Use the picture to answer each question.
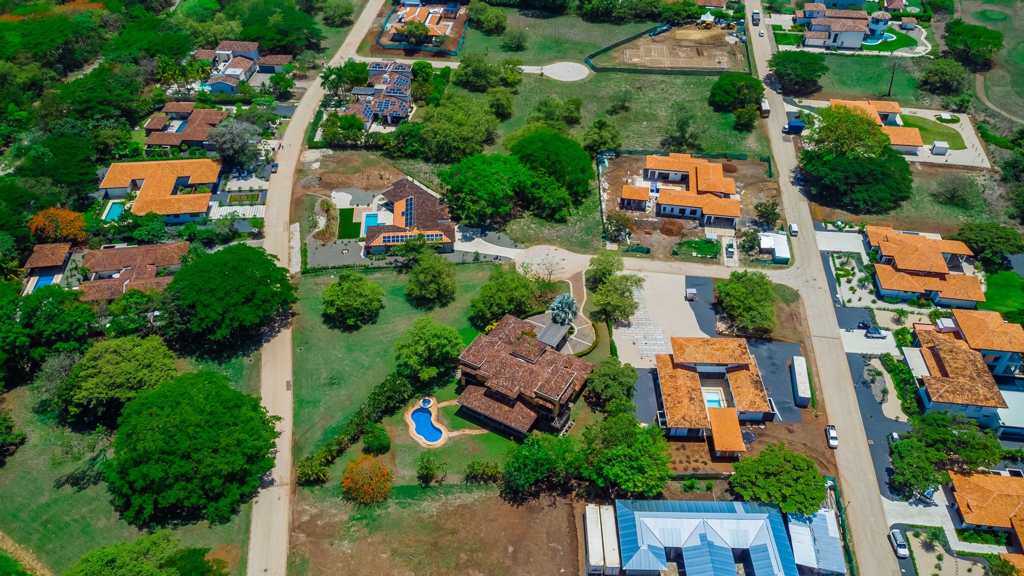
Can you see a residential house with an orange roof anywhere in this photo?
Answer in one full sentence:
Yes, a residential house with an orange roof is visible in the scene.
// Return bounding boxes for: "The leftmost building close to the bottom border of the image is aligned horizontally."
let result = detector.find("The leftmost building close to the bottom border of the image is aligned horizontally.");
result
[616,499,800,576]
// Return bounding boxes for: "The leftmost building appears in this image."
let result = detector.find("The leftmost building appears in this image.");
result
[24,242,74,277]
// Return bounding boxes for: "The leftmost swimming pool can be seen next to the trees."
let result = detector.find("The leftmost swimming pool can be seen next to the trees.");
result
[29,274,56,292]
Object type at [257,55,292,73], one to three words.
building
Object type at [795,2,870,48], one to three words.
house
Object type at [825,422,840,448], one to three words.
vehicle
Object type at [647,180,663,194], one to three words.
swimming pool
